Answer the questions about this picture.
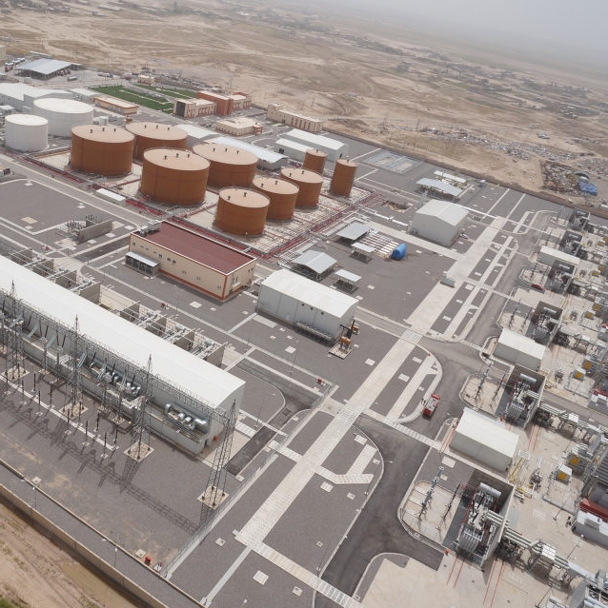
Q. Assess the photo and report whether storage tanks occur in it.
Yes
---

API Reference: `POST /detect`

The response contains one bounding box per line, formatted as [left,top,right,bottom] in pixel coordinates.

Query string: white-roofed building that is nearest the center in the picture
[254,268,365,346]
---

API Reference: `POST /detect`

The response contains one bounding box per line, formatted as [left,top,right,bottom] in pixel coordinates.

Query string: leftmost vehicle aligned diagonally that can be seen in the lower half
[424,394,442,413]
